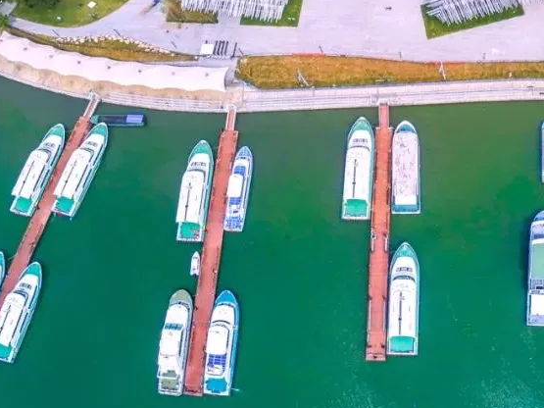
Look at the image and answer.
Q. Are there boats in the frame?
Yes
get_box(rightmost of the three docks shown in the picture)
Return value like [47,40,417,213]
[365,100,393,361]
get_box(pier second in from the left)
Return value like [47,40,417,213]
[184,101,239,396]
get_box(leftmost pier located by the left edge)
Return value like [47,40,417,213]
[0,94,101,303]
